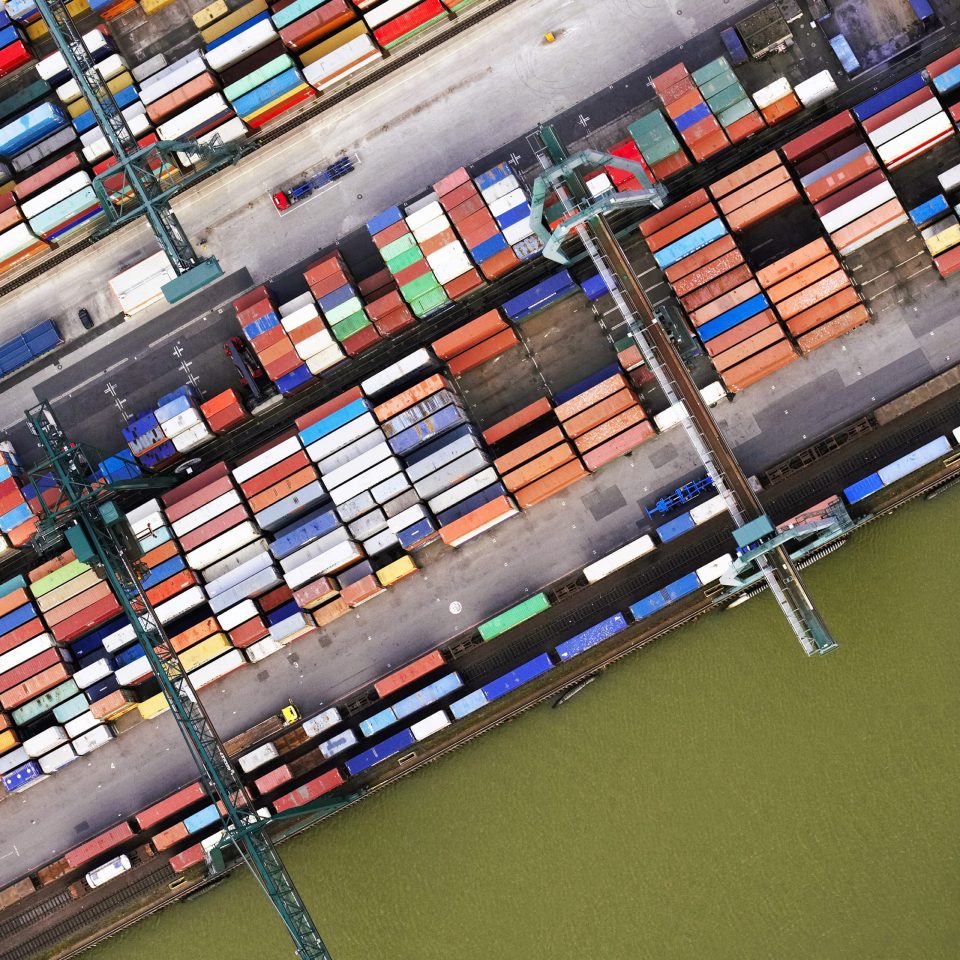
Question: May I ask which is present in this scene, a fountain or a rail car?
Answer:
rail car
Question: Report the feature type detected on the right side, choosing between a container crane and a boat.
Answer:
container crane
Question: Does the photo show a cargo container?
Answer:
Yes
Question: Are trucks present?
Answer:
Yes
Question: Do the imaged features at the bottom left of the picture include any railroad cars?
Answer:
Yes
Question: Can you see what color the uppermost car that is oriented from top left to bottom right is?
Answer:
black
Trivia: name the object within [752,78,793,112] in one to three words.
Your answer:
shipping container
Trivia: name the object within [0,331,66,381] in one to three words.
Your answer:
trailer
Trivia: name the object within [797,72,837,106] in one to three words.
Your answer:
shipping container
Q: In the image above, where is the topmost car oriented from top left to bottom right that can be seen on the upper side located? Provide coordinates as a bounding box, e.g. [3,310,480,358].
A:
[77,306,98,331]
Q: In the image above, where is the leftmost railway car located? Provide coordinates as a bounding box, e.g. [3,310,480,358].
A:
[0,878,38,913]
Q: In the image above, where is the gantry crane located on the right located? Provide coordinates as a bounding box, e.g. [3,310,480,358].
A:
[520,128,870,661]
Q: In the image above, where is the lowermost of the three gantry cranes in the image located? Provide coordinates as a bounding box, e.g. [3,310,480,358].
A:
[21,396,365,960]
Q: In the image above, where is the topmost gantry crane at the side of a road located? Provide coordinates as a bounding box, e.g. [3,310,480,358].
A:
[38,0,248,306]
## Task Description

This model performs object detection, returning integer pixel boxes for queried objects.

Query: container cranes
[38,0,248,306]
[520,128,870,661]
[21,396,365,960]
